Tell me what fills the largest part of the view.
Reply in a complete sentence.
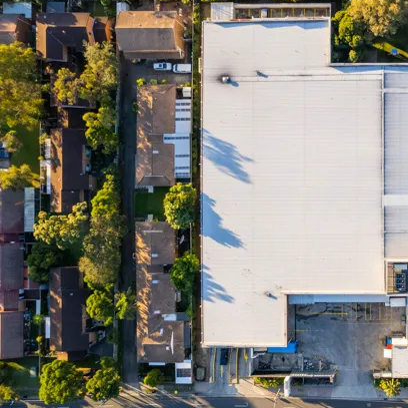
Most of the picture is covered by buildings.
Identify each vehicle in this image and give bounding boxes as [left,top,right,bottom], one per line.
[152,60,173,71]
[218,348,230,369]
[171,62,194,73]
